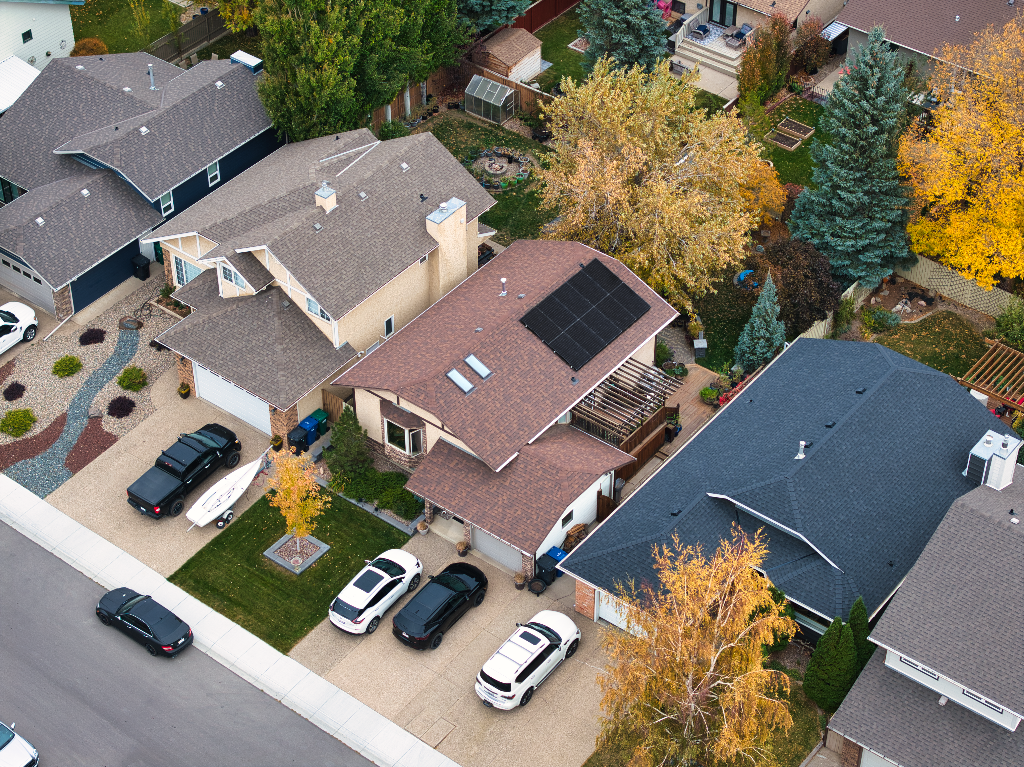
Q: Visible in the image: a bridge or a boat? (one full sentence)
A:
The image shows a boat.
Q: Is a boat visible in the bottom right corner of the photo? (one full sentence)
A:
No, no boat can be made out in the bottom right corner of the photo.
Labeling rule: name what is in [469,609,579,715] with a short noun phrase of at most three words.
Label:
car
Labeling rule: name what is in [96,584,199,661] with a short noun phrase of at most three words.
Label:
car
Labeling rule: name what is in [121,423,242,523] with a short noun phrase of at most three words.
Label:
truck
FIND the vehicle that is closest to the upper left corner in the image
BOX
[0,301,38,354]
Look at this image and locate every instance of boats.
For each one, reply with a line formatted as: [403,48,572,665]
[185,445,273,532]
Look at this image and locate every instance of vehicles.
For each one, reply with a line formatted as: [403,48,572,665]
[121,423,242,523]
[469,609,579,715]
[386,563,486,656]
[320,549,420,640]
[0,720,38,767]
[0,301,38,354]
[96,584,199,661]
